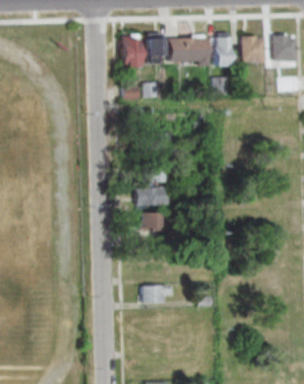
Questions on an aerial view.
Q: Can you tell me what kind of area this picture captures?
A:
sports ground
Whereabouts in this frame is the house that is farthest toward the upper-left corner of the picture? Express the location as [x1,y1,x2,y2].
[120,32,147,69]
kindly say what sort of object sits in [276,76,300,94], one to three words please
building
